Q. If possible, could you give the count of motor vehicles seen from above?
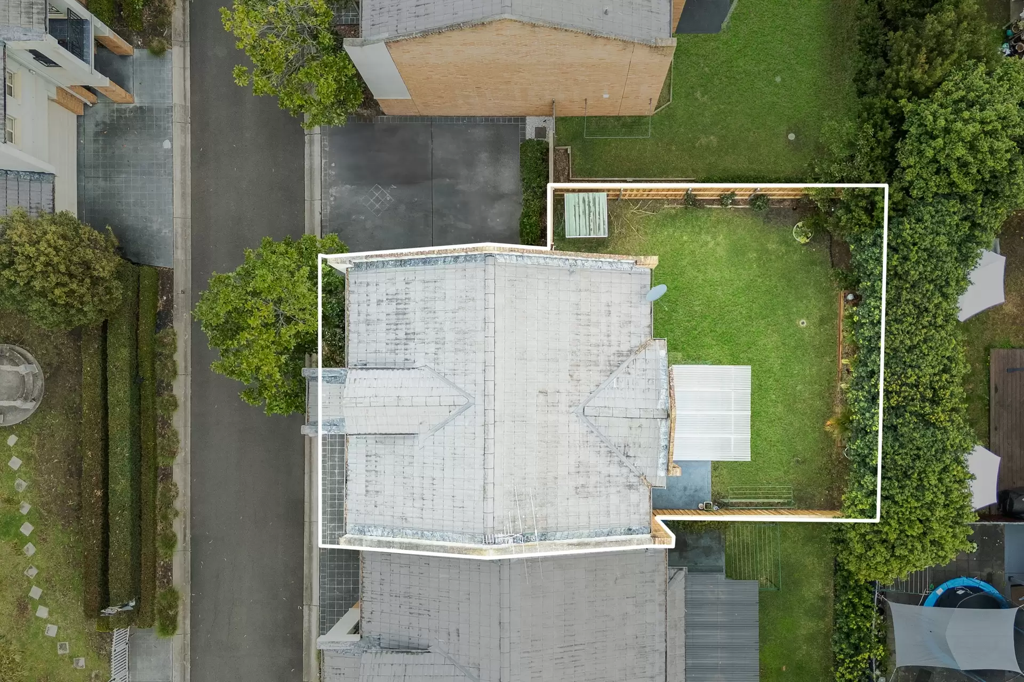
0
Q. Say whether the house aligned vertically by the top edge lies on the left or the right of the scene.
left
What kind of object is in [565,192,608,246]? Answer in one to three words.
shed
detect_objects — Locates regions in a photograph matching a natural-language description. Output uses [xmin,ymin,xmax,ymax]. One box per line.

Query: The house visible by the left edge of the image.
[0,0,110,237]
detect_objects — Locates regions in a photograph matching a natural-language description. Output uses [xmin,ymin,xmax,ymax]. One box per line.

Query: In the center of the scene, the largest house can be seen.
[301,254,682,544]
